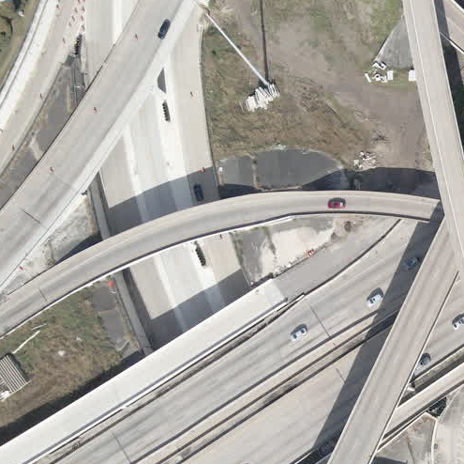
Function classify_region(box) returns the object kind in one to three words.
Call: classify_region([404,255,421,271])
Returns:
car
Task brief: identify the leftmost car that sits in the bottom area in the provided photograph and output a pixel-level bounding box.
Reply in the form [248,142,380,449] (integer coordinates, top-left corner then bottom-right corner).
[289,326,308,340]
